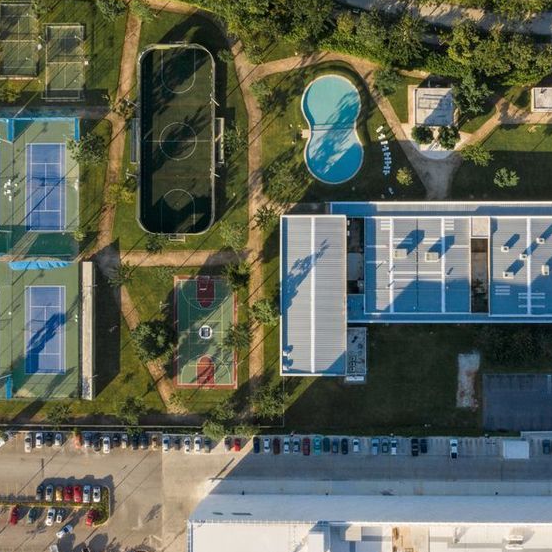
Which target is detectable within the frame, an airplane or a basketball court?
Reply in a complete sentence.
The image shows a basketball court.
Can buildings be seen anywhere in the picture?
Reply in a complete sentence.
Yes, the picture does show a building.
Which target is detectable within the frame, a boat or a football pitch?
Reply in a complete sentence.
Visible in the photo is a football pitch.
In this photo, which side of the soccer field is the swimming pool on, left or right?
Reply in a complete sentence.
Relative to the soccer field, the swimming pool is on the right.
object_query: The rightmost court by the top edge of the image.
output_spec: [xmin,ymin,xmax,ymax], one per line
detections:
[42,22,84,100]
